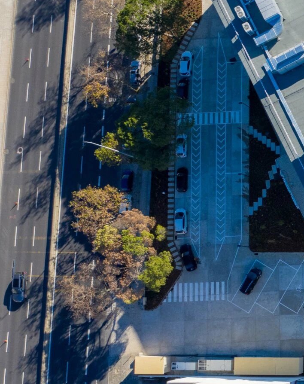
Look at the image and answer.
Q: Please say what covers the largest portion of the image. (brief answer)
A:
paved ground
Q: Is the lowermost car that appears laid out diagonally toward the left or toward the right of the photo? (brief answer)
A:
right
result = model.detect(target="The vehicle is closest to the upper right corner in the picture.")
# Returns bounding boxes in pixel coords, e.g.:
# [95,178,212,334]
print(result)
[179,51,194,77]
